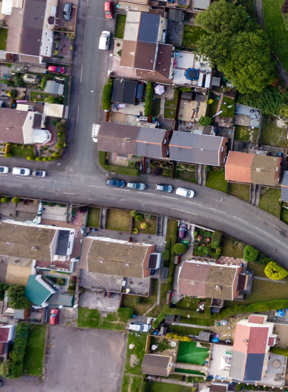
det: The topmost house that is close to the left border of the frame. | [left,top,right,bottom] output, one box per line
[9,0,62,31]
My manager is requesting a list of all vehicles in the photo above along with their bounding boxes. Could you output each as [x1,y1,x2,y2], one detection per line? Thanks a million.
[12,167,31,175]
[91,123,100,142]
[98,30,110,50]
[127,181,147,190]
[104,0,115,19]
[62,2,73,20]
[155,183,173,192]
[106,178,126,186]
[0,165,12,172]
[178,224,187,238]
[47,67,66,74]
[174,187,195,197]
[32,169,47,176]
[128,321,151,333]
[49,307,59,325]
